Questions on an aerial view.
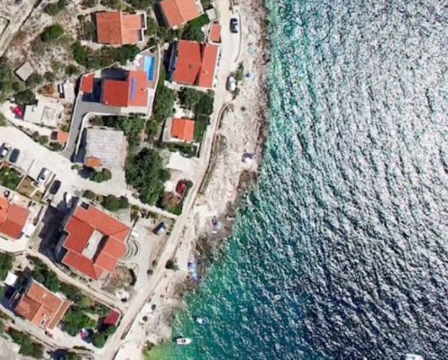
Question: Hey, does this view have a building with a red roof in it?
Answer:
Yes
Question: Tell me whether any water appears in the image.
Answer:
Yes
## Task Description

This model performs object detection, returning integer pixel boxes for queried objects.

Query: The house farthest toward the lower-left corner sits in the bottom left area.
[12,274,70,331]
